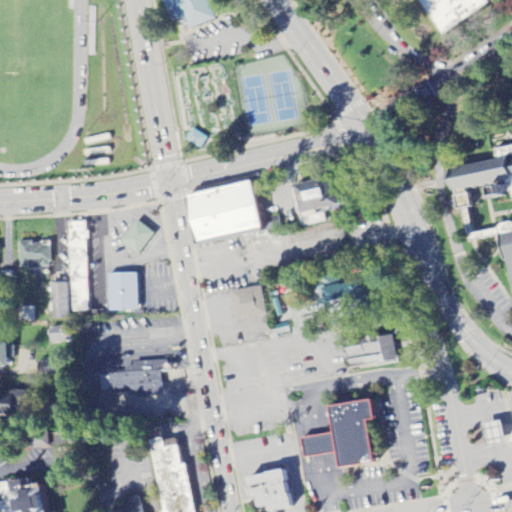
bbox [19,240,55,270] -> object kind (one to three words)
house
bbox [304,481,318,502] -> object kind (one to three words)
vehicle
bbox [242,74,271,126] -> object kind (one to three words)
tennis court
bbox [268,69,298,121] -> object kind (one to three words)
tennis court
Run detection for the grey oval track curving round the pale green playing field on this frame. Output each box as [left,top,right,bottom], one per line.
[0,0,90,178]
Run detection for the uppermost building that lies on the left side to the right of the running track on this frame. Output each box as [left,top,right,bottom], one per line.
[170,0,218,30]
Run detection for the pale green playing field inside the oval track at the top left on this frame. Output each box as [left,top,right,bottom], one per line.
[0,0,75,164]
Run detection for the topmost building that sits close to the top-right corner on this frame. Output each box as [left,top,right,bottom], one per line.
[421,0,490,33]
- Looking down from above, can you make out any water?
No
